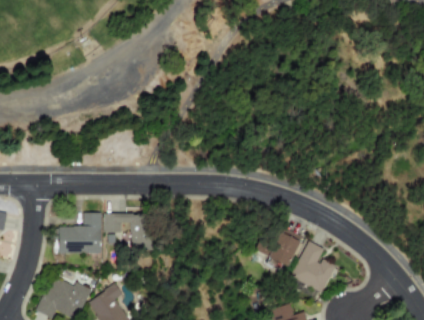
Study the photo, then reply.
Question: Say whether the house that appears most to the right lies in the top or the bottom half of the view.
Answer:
bottom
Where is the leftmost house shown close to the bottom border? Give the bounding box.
[34,280,90,320]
